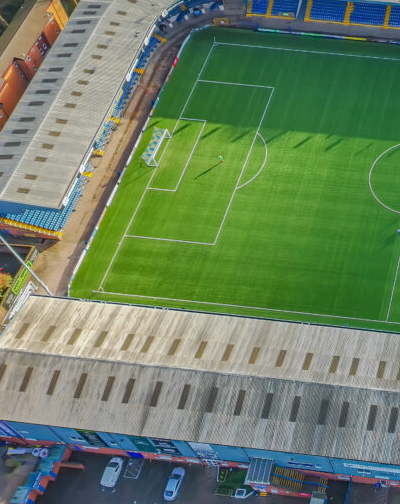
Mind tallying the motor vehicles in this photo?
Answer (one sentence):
There are 2 motor vehicles in the image.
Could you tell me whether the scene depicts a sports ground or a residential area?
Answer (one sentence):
What you see here is a sports ground.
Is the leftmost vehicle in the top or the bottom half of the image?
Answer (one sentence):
You can find the leftmost vehicle in the bottom half.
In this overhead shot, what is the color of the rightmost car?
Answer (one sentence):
The rightmost car is blue.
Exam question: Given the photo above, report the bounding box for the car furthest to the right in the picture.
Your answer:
[162,467,186,500]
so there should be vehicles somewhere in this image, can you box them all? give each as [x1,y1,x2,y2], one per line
[162,467,186,500]
[100,456,126,488]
